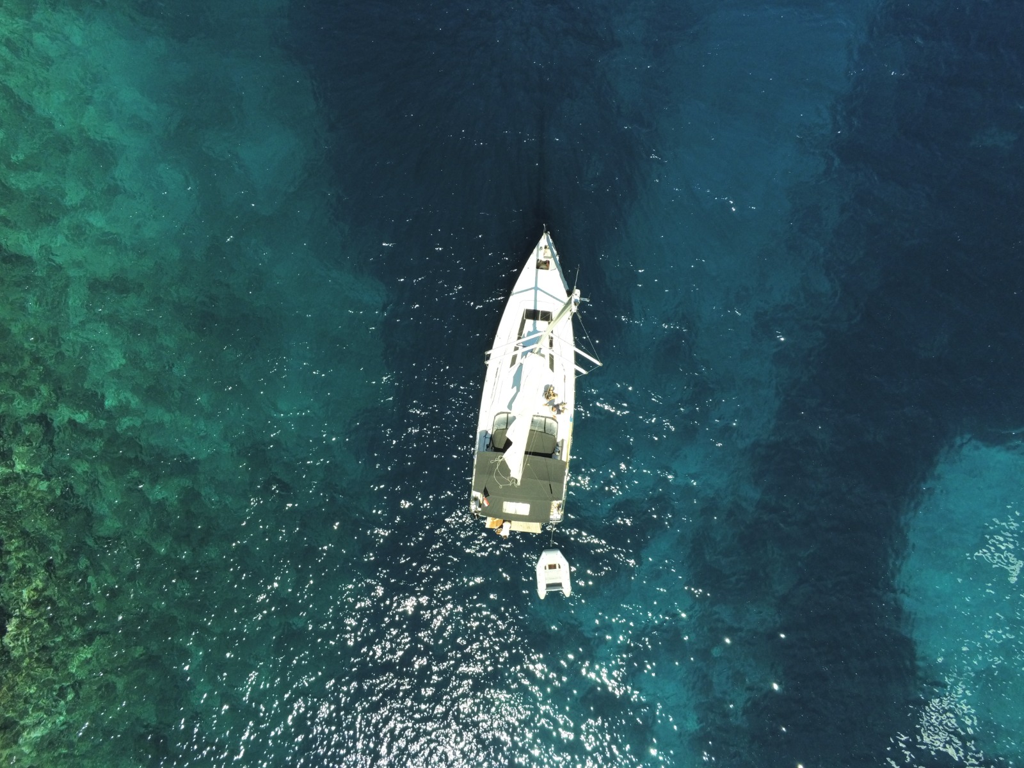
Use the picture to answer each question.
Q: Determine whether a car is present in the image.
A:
No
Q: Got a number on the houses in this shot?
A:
zero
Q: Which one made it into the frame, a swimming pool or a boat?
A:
boat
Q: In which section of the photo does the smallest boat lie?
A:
bottom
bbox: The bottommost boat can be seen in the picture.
[536,548,573,598]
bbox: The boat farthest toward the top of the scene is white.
[471,224,604,534]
